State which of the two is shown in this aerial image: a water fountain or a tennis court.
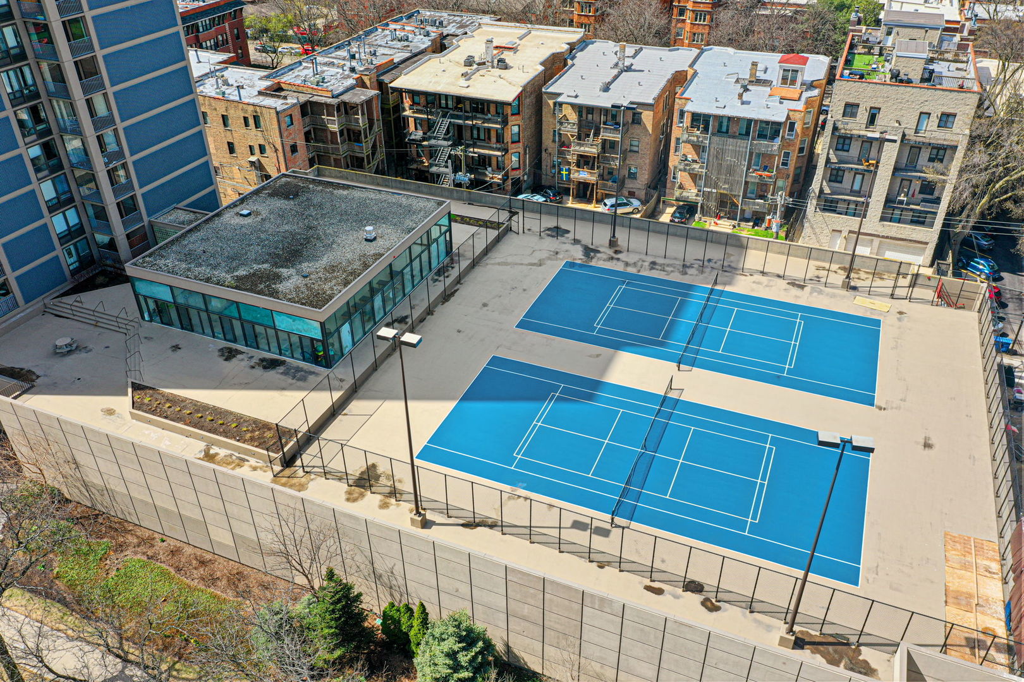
tennis court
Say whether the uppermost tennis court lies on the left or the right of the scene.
right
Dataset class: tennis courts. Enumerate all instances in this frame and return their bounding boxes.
[514,260,881,407]
[414,356,870,587]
